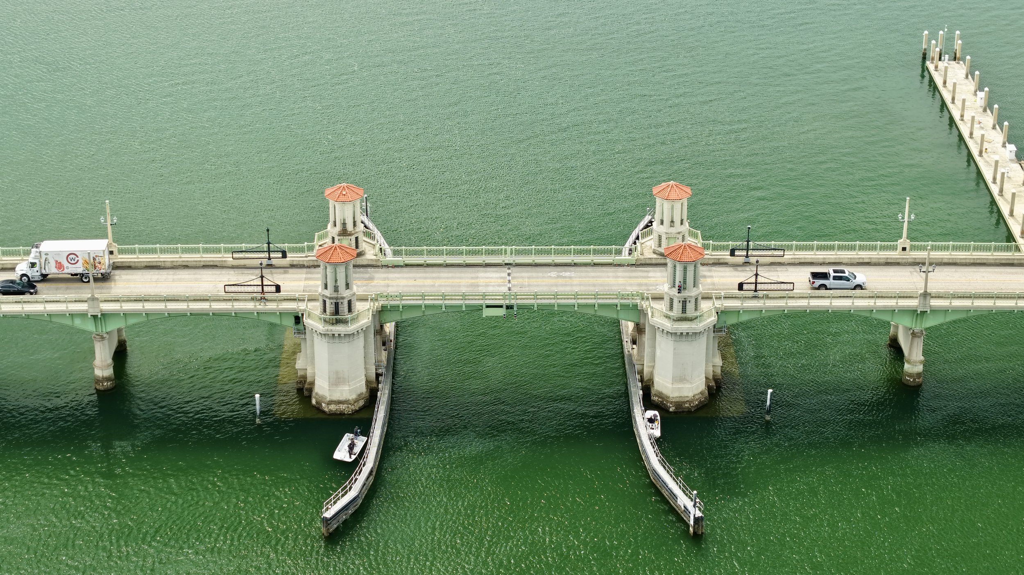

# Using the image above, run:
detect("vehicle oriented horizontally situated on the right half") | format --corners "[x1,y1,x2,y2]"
[809,269,871,292]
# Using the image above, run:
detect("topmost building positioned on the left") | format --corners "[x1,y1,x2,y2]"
[325,182,367,255]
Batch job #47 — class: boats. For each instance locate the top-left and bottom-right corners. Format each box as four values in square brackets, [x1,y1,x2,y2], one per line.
[332,429,367,467]
[645,409,665,442]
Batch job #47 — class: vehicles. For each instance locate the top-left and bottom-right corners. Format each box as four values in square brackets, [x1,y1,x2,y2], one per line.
[16,240,117,283]
[809,269,871,292]
[0,280,38,297]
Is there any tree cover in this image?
No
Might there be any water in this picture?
Yes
